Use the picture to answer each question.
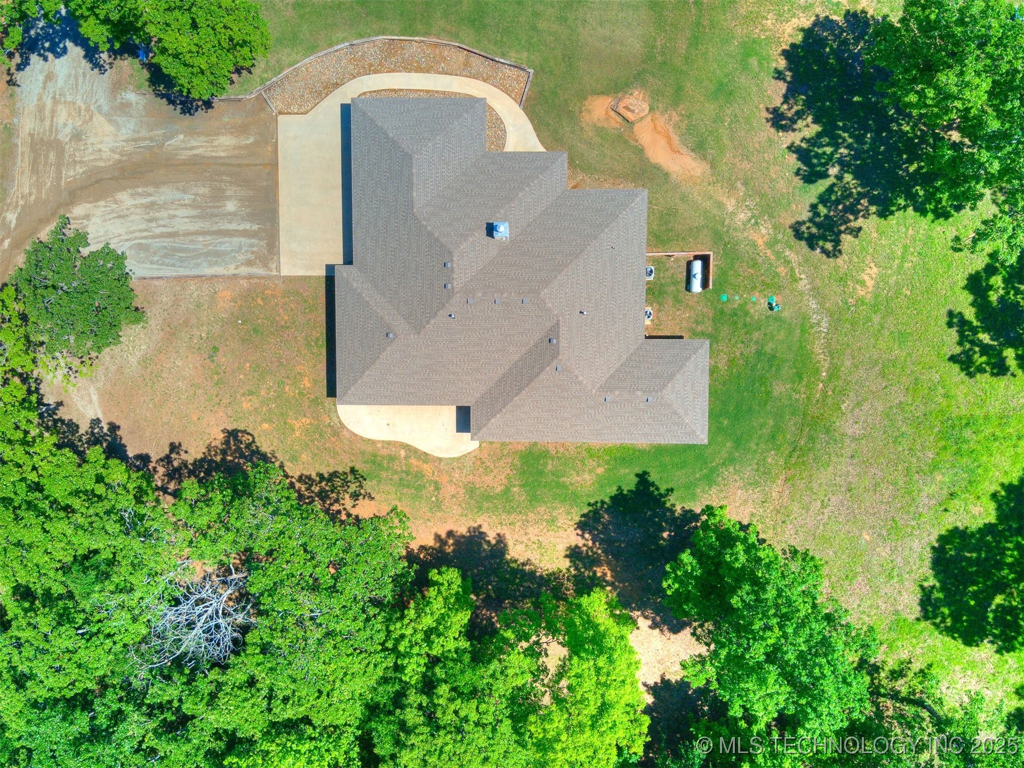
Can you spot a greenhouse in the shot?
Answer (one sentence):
No, there is no greenhouse in the image.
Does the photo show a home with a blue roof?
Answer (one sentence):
No, the frame has no home with a blue roof in it.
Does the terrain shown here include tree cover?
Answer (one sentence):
Yes, there's tree cover in this view.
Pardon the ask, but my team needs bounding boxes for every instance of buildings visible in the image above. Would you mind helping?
[334,96,711,445]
